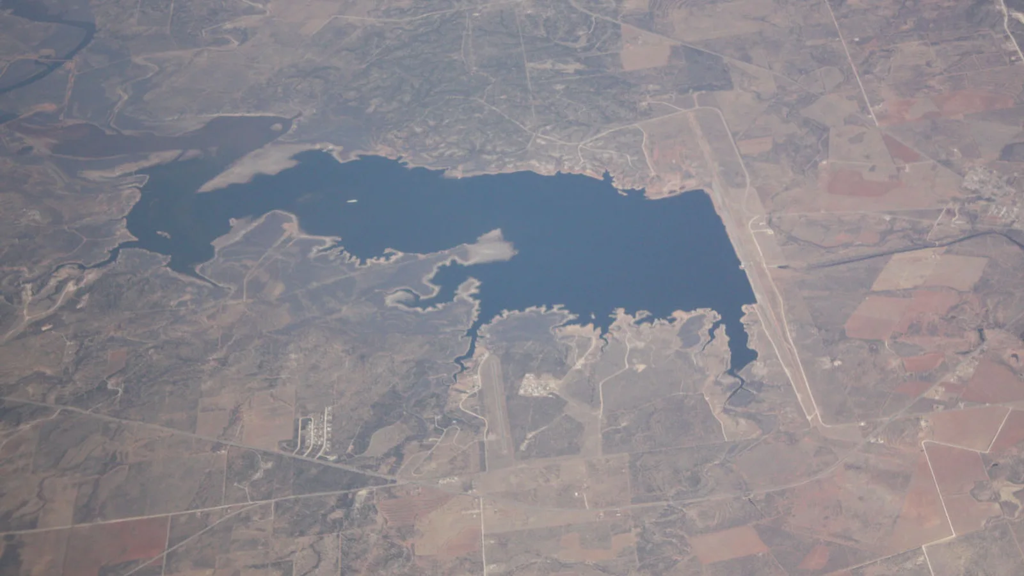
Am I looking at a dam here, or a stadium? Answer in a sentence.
The one in the frame is a dam.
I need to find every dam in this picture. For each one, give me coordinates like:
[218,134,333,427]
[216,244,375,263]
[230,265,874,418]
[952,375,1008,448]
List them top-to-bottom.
[696,118,814,415]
